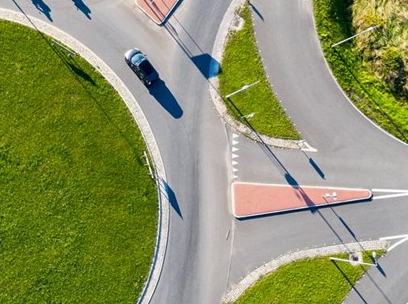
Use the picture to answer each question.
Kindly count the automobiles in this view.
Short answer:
1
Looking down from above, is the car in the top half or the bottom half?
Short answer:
top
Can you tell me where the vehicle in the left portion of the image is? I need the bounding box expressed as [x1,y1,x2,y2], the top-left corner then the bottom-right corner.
[127,49,158,87]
